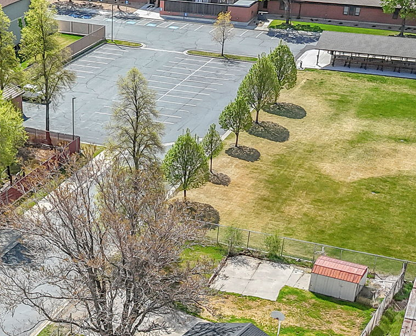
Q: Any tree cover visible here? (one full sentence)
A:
Yes, there's tree cover in this view.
